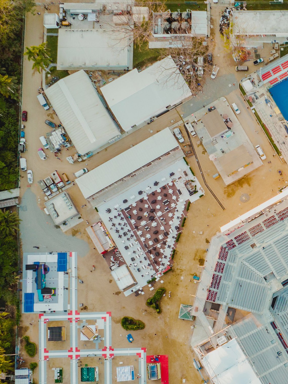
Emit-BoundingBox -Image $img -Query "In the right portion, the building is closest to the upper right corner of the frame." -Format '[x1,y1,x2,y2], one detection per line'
[230,10,288,44]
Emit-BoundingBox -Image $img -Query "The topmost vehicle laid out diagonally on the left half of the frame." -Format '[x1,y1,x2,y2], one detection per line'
[34,93,49,110]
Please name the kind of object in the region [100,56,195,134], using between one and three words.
tent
